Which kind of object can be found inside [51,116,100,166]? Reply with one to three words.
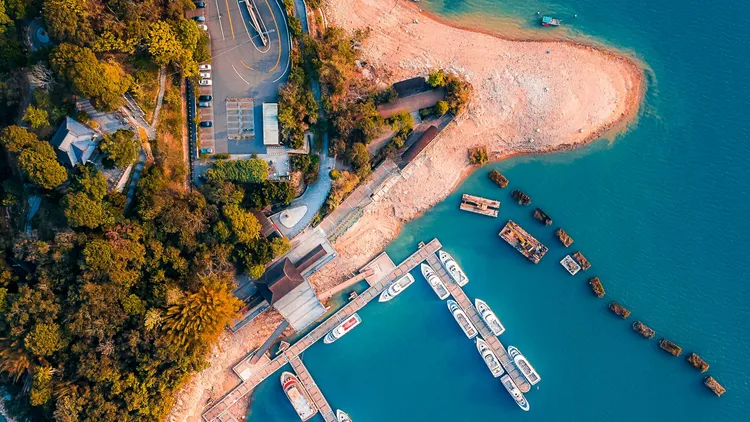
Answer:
house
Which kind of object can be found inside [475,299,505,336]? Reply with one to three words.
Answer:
boat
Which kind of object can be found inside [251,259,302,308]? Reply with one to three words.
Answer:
building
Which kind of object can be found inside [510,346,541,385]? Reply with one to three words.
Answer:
boat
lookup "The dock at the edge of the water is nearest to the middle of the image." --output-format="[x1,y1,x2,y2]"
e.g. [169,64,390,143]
[360,251,393,283]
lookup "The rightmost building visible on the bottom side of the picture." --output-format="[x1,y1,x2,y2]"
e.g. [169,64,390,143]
[293,244,327,274]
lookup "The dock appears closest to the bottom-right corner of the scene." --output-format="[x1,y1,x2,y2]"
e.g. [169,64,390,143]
[422,257,529,392]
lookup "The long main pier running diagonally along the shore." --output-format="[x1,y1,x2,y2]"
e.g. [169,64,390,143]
[201,239,441,418]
